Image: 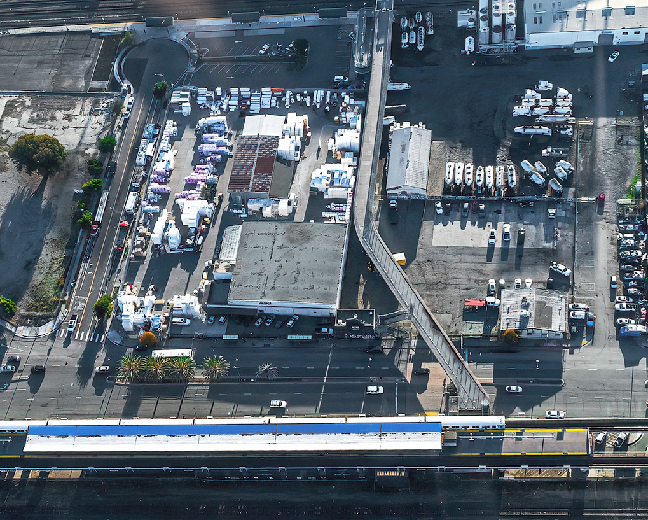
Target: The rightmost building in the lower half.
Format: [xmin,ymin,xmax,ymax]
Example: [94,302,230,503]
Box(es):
[499,287,568,338]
